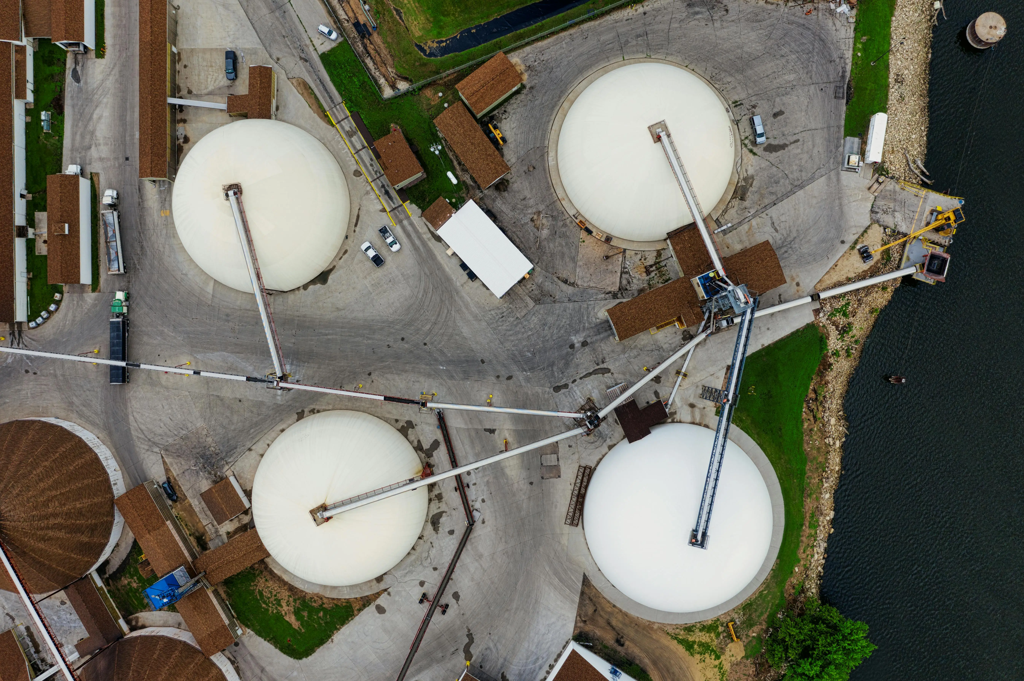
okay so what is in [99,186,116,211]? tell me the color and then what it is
white vehicle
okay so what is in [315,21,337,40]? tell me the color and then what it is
white car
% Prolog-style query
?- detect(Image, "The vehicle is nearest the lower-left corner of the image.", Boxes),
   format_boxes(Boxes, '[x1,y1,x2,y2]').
[159,481,176,503]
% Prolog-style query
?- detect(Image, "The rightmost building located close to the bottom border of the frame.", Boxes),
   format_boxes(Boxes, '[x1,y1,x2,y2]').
[546,641,616,681]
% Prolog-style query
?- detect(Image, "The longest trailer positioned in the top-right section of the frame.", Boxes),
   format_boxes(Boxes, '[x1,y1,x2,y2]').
[864,111,887,165]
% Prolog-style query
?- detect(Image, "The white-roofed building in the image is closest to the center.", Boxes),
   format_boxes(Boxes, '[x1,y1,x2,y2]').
[437,199,534,299]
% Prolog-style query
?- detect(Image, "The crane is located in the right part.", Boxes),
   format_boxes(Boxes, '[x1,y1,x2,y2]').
[856,205,969,266]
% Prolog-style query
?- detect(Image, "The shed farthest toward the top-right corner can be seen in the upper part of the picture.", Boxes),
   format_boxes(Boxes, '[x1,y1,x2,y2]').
[722,240,787,297]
